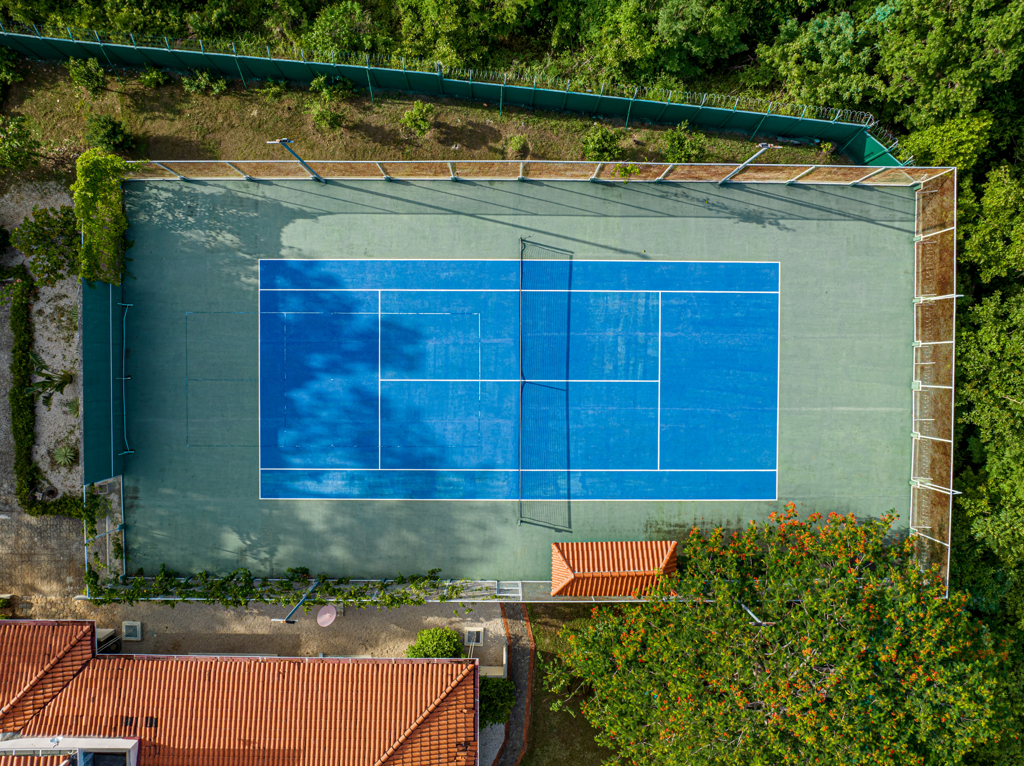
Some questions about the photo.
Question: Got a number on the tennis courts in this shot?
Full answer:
In total, there is 1 tennis court in the scene.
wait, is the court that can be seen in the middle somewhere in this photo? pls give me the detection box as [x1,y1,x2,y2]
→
[119,174,926,585]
